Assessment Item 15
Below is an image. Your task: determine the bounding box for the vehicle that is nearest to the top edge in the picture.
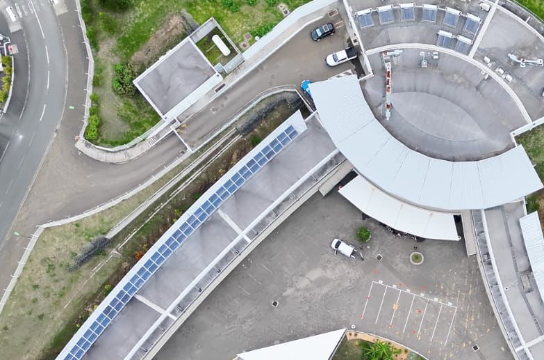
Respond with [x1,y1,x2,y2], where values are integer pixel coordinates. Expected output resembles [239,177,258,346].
[311,22,337,44]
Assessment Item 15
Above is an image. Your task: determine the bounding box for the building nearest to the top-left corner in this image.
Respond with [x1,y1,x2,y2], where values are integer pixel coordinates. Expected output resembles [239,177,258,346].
[135,37,224,123]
